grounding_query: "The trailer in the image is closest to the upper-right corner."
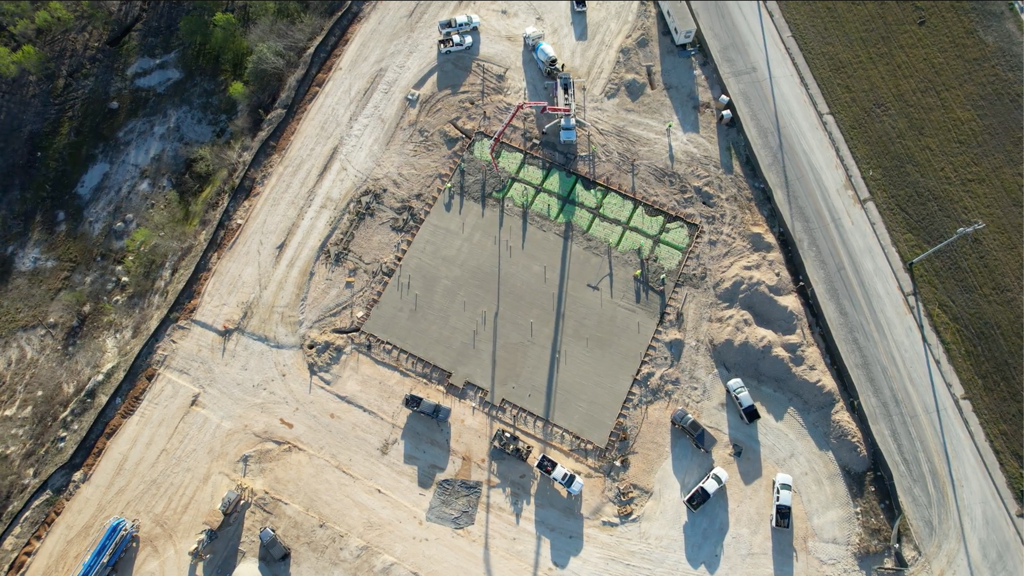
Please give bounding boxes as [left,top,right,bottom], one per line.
[646,0,696,52]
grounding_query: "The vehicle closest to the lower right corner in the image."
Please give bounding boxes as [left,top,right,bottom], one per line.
[770,474,796,530]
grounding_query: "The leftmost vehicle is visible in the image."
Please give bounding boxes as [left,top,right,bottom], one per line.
[70,507,153,576]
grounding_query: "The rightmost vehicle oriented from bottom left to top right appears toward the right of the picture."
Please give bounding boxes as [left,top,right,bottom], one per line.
[682,466,729,515]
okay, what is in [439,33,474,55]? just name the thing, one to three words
truck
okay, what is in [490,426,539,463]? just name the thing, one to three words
trailer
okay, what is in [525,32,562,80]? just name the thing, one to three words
truck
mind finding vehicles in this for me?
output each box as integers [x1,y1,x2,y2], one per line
[258,526,291,567]
[489,78,592,178]
[402,392,452,423]
[525,32,562,80]
[534,453,584,494]
[770,474,796,530]
[573,0,588,12]
[70,507,153,576]
[439,13,481,35]
[669,408,717,454]
[726,379,762,424]
[200,478,255,557]
[439,33,474,55]
[682,466,729,515]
